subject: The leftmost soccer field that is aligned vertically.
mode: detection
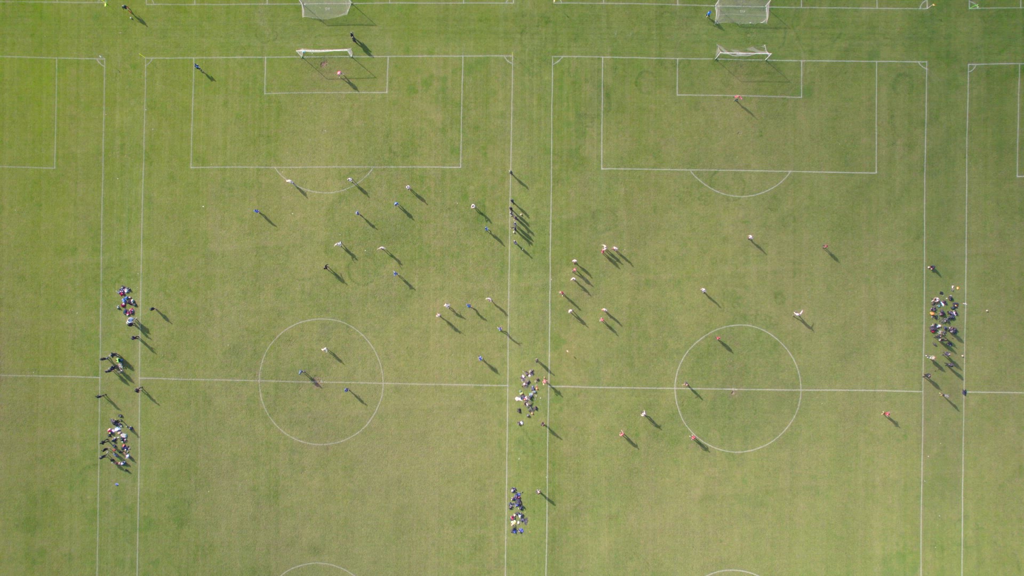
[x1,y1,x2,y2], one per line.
[0,56,105,576]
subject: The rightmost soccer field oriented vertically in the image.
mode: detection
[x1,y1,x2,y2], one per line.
[962,63,1024,576]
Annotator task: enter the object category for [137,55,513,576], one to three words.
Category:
soccer field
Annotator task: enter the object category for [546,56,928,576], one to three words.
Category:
soccer field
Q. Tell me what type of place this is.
sports ground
